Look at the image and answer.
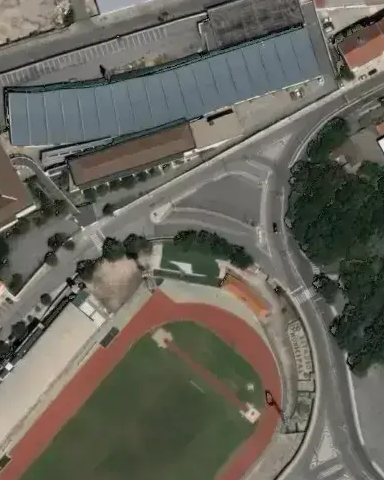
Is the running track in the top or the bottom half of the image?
bottom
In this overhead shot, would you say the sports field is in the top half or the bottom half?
bottom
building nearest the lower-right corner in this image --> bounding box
[223,275,268,317]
